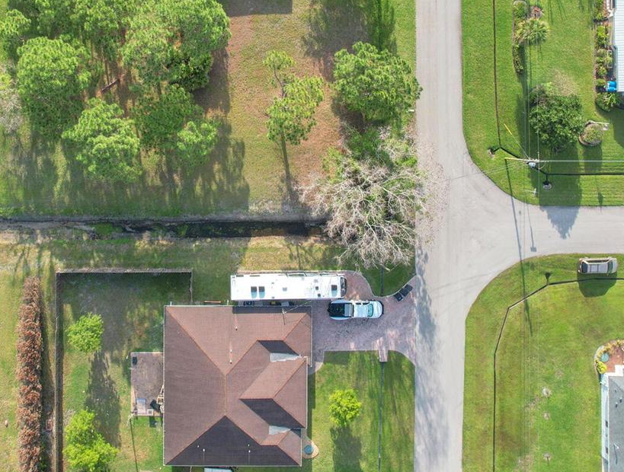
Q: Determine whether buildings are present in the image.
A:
Yes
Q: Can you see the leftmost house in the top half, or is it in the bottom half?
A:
bottom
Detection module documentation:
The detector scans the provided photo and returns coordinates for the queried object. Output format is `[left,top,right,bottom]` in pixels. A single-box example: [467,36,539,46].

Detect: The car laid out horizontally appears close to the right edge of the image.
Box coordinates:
[576,256,614,274]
